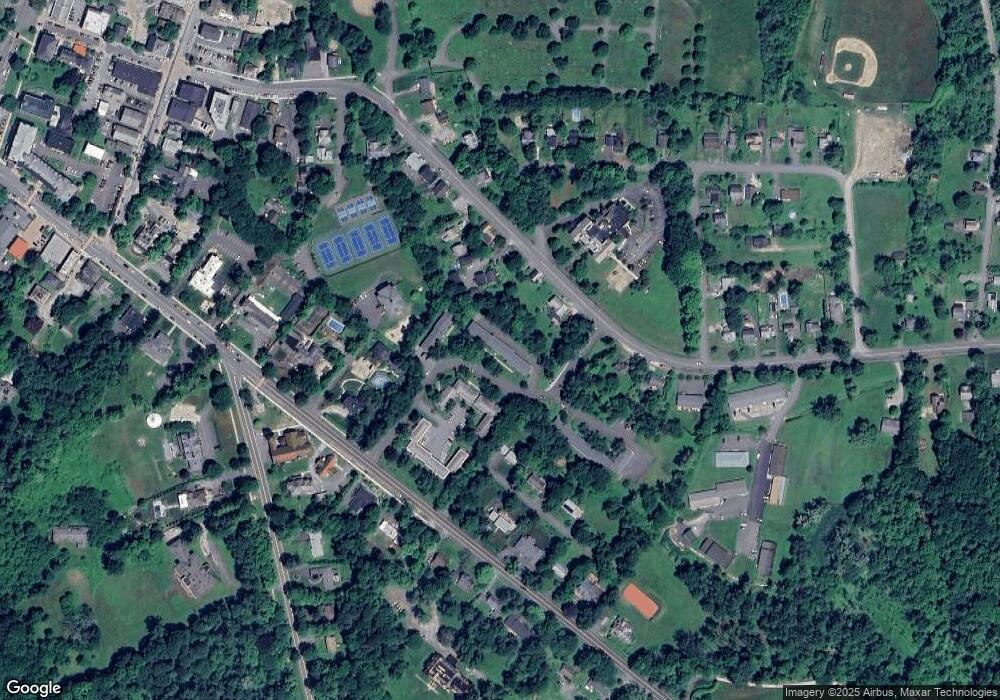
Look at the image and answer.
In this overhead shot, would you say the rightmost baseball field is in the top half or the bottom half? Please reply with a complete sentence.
The top half of the photo is where the rightmost baseball field is.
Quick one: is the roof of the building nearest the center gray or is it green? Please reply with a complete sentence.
From above, the roof of the building nearest the center appears gray.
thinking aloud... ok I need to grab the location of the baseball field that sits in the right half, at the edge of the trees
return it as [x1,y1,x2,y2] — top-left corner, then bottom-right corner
[819,0,939,103]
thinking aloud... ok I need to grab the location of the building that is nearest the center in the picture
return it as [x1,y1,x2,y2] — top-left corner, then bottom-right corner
[466,323,532,376]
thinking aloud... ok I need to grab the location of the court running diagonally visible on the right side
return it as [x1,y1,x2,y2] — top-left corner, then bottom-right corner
[620,581,662,621]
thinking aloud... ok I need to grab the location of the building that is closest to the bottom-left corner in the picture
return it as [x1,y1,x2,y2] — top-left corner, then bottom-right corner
[52,529,88,550]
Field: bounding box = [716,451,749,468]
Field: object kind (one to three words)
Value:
shed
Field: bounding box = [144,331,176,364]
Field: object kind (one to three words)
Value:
house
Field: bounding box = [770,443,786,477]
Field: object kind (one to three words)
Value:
building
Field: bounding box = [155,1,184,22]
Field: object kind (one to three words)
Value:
building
